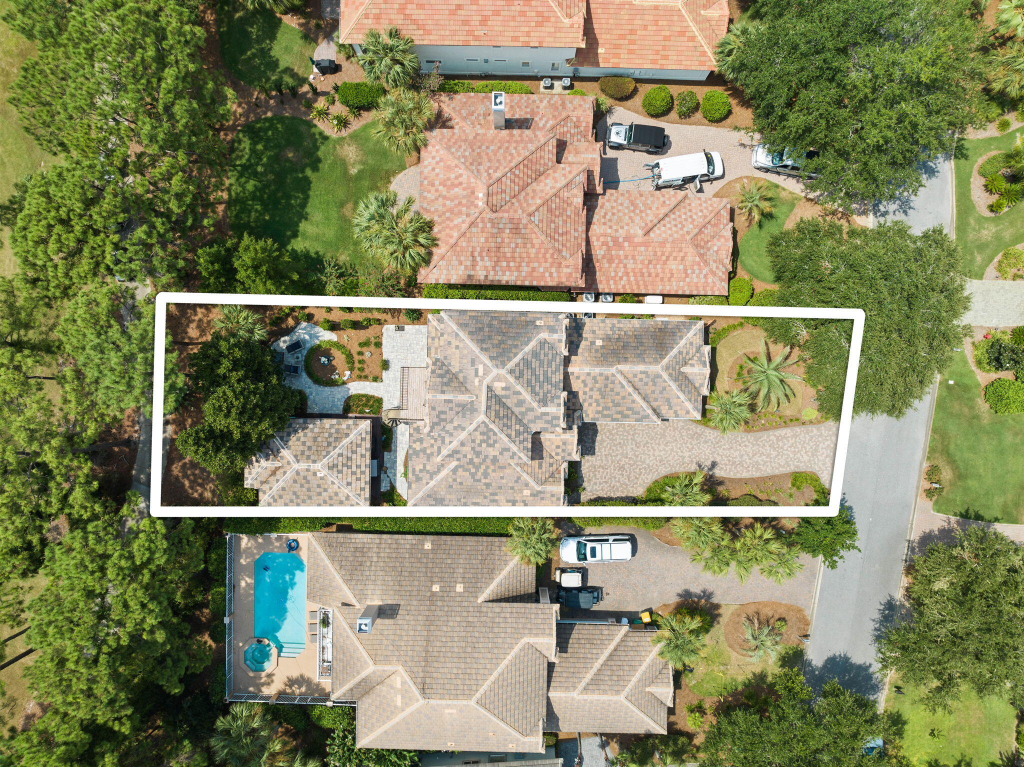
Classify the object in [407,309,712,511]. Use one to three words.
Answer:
house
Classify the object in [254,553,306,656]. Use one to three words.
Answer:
swimming pool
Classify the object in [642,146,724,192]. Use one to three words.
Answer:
van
